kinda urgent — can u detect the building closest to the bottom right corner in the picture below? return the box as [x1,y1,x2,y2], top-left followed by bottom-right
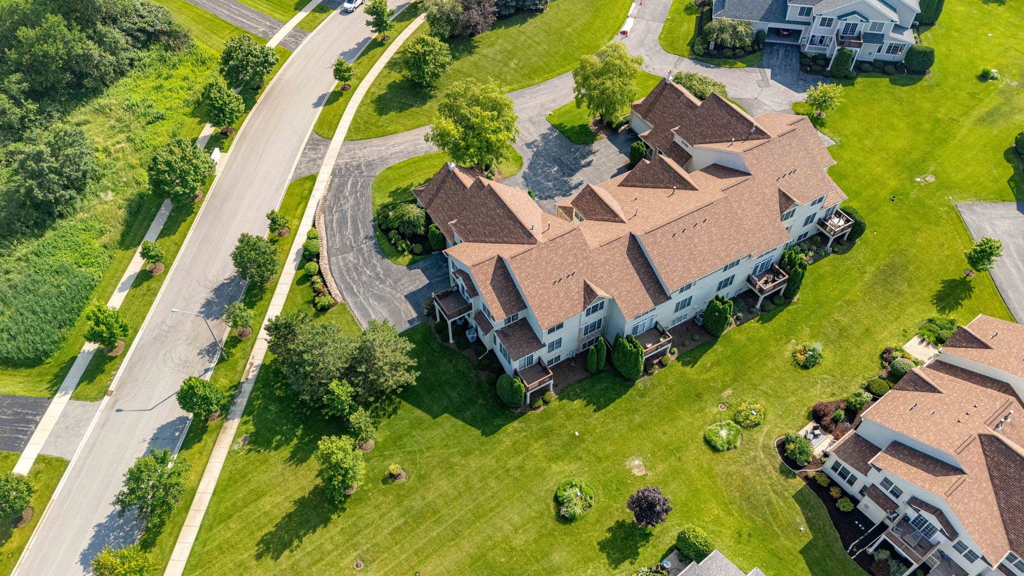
[822,314,1024,576]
